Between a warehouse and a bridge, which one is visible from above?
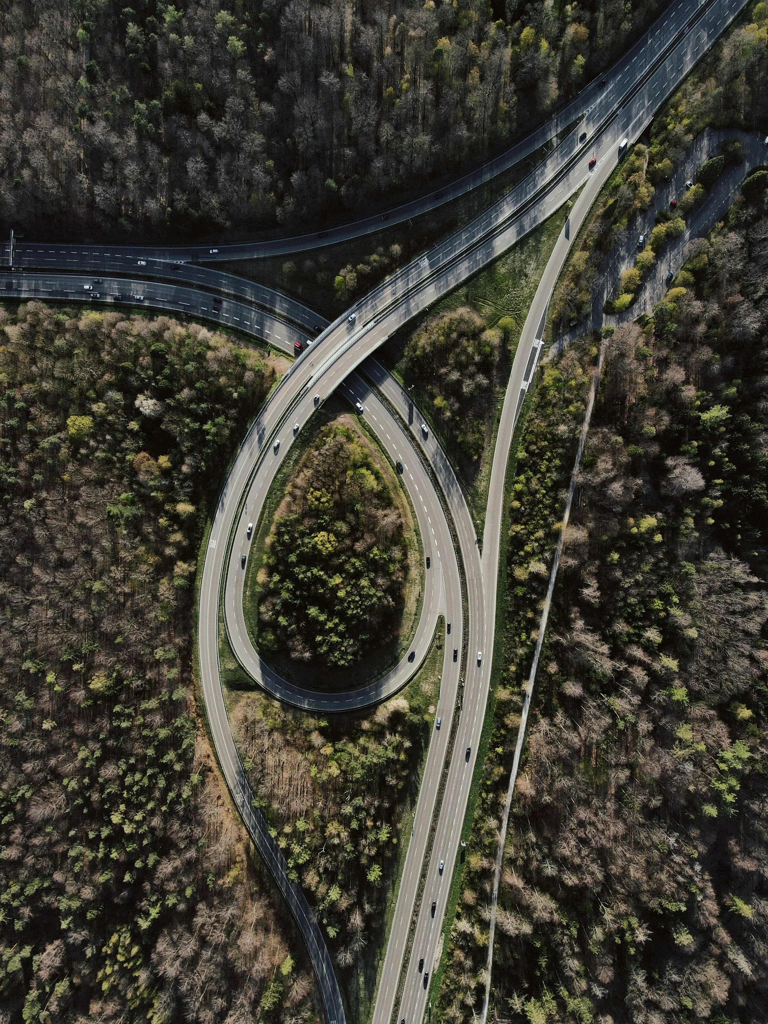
bridge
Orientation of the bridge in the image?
on a diagonal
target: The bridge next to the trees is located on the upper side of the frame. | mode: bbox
[265,286,402,411]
